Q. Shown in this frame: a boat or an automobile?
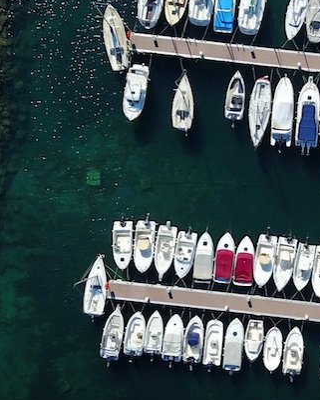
boat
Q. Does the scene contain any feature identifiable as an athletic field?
No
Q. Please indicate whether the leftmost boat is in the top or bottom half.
bottom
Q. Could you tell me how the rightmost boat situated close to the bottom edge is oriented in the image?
vertically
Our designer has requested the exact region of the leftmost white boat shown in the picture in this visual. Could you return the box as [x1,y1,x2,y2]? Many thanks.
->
[81,254,109,324]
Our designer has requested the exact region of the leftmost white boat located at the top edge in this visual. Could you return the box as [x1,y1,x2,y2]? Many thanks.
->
[101,3,128,71]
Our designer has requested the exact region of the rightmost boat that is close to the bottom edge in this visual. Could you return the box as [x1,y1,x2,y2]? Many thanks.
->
[282,319,307,383]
